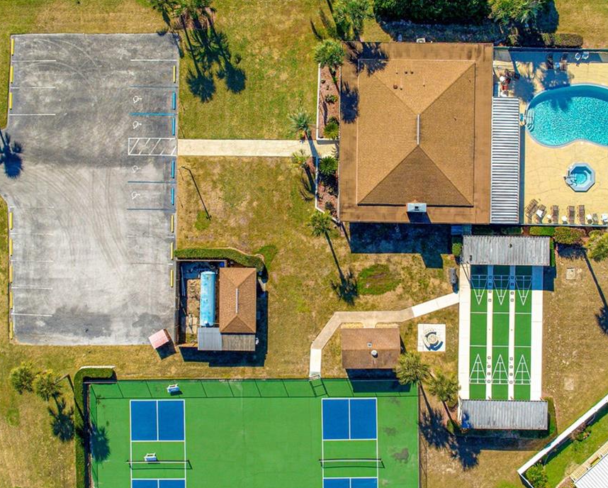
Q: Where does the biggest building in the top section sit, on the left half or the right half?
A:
right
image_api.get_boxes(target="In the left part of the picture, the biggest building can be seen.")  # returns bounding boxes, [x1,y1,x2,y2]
[198,267,257,350]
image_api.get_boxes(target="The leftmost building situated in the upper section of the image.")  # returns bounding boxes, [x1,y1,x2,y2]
[338,42,493,224]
